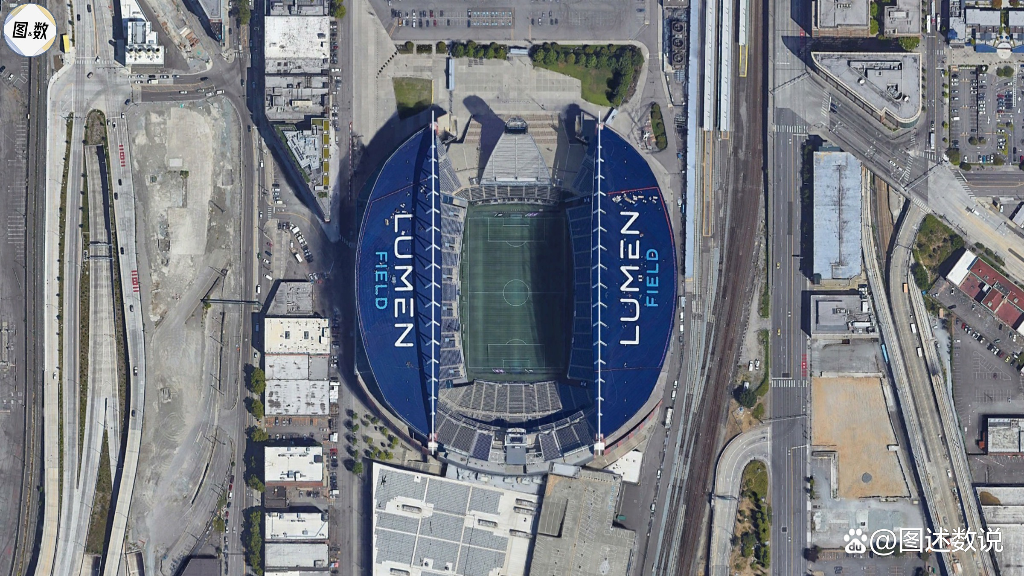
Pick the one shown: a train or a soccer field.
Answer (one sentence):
It is a soccer field that can be seen here.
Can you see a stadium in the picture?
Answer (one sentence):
Yes, there's a stadium down there.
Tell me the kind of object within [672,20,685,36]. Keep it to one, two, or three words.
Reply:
cooling tower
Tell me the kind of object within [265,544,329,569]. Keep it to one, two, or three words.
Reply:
building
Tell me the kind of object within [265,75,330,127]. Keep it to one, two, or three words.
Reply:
building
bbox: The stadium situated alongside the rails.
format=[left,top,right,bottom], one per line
[355,111,678,479]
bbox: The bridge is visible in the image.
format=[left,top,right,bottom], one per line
[889,199,977,576]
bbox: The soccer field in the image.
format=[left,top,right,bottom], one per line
[459,204,575,384]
